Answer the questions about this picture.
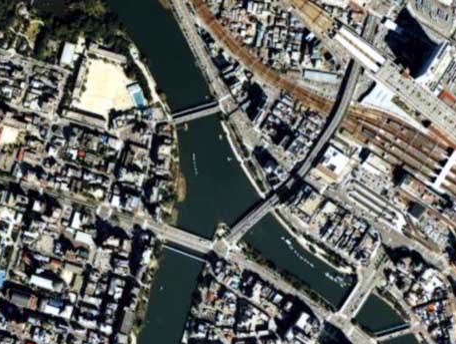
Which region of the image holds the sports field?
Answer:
top left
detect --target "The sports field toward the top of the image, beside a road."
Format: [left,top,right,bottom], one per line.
[72,60,135,120]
